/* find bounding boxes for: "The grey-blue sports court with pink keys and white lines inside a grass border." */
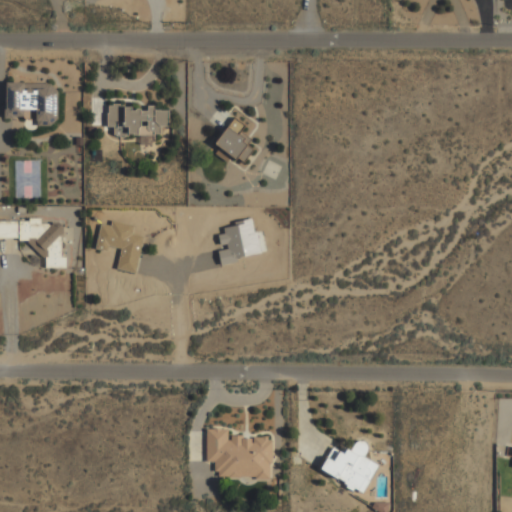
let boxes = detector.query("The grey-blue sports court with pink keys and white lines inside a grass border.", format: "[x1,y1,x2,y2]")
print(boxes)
[10,158,47,202]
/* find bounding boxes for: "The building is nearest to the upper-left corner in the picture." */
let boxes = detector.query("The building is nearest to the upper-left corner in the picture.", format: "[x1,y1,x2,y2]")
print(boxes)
[4,82,58,130]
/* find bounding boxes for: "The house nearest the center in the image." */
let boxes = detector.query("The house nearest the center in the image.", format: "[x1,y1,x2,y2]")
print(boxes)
[218,218,267,266]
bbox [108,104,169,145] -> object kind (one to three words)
house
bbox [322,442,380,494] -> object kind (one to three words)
house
